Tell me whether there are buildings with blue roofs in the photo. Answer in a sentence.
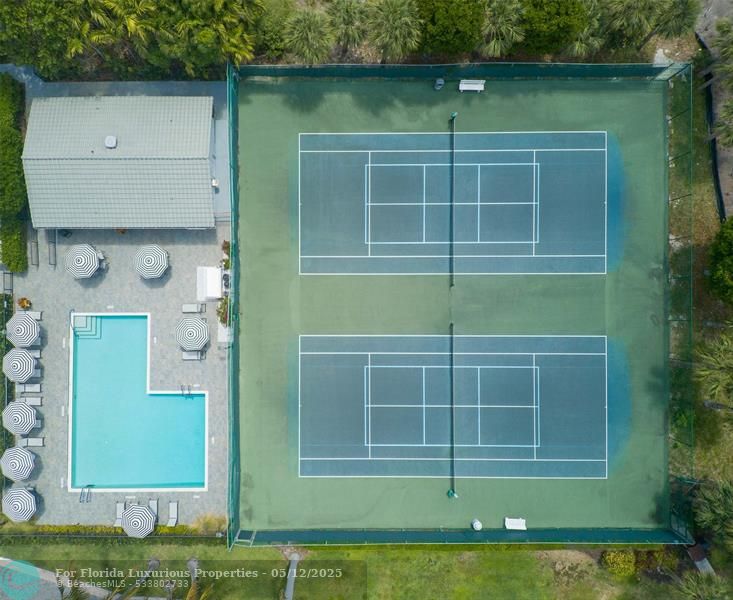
No, no building with a blue roof can be seen from above.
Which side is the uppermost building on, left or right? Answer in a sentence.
The uppermost building sits on the left side.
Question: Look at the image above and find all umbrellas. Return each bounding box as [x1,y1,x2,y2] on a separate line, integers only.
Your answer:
[0,445,37,481]
[65,244,100,279]
[1,485,38,521]
[174,317,210,353]
[2,347,39,382]
[1,400,39,435]
[119,503,154,539]
[132,243,168,279]
[6,313,42,348]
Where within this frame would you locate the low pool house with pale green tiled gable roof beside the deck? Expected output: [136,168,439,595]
[24,96,217,232]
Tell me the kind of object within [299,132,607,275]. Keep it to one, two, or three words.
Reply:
tennis court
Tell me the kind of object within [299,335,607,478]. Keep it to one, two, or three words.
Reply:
tennis court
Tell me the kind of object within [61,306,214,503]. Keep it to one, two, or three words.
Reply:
swimming pool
